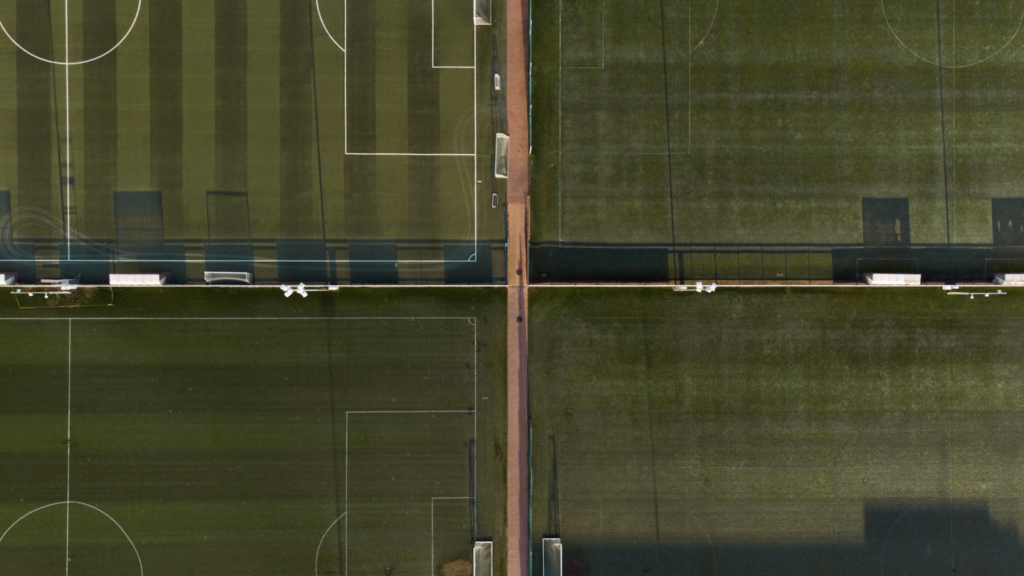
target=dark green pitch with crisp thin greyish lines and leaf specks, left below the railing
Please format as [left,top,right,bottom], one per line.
[0,285,508,576]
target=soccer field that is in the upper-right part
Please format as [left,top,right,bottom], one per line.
[529,0,1024,284]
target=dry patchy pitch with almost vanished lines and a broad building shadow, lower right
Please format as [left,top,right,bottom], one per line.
[529,286,1024,576]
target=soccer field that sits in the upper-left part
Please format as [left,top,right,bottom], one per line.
[0,0,507,285]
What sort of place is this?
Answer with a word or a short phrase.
sports ground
